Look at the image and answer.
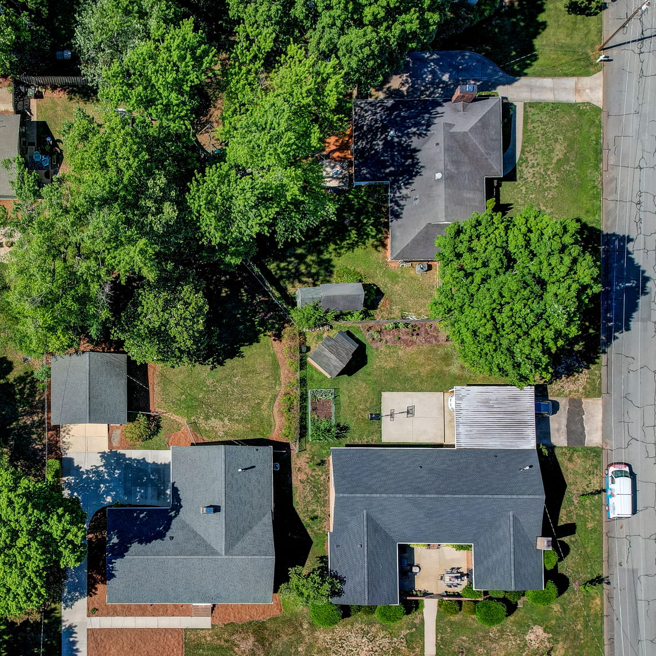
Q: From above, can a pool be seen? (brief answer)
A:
No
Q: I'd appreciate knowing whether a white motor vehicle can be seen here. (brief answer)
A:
Yes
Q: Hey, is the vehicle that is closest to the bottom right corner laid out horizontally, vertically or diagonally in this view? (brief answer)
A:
vertically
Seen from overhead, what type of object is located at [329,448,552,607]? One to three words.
house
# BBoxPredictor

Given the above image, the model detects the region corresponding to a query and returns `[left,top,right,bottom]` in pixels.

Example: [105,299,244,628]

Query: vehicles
[447,397,453,412]
[536,401,552,419]
[607,463,635,518]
